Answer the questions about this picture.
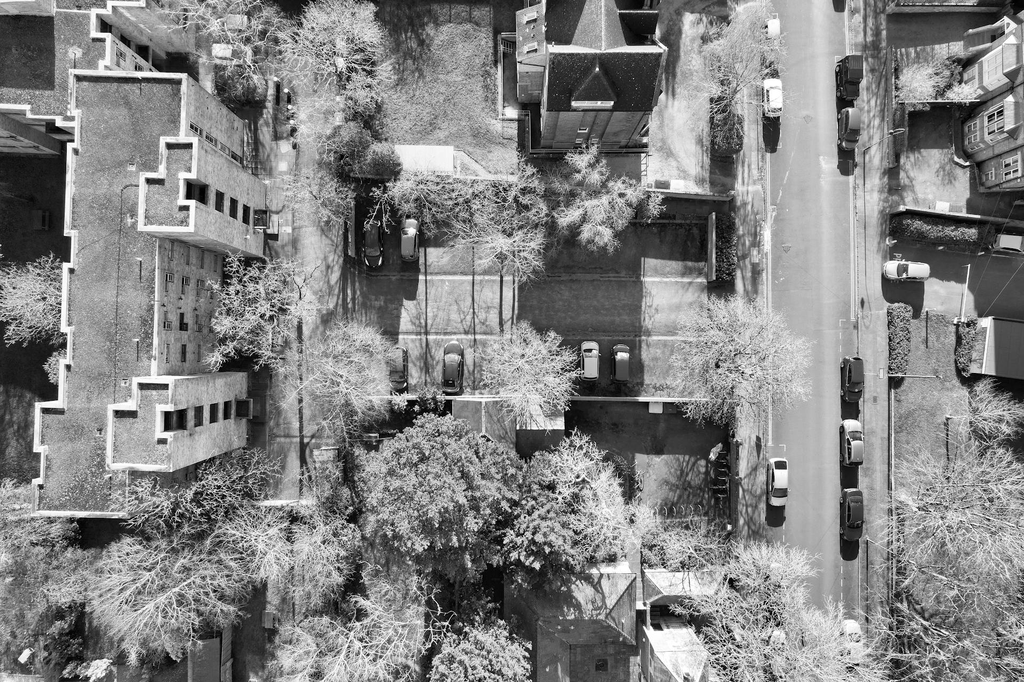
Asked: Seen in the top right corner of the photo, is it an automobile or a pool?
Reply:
automobile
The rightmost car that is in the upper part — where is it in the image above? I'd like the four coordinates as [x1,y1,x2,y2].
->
[987,231,1024,256]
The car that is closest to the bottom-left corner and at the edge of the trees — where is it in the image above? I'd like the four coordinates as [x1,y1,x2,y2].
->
[388,347,409,390]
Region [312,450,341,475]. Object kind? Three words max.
shed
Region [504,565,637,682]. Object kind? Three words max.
house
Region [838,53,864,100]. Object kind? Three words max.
truck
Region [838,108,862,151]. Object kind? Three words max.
car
